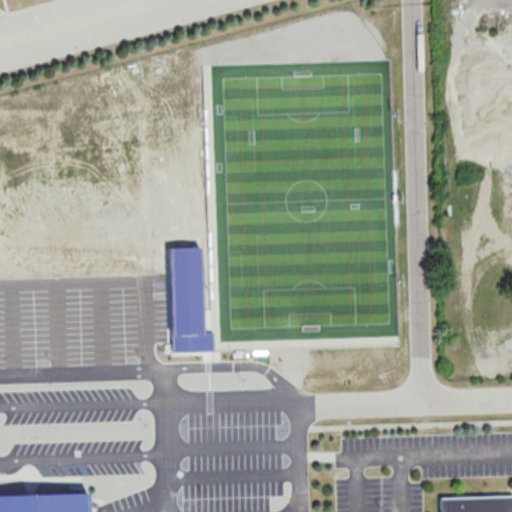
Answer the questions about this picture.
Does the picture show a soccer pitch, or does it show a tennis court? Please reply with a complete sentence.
There is a soccer pitch in the scene.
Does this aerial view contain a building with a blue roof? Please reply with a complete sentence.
Yes, there's a building with a blue roof down there.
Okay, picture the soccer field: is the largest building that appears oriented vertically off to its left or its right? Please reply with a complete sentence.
The soccer field has the largest building that appears oriented vertically on its left side.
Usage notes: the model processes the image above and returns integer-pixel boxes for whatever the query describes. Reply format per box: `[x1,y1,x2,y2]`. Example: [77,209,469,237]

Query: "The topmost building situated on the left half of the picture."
[164,248,214,354]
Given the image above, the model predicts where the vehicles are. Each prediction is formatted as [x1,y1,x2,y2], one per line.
[417,20,425,72]
[448,205,452,217]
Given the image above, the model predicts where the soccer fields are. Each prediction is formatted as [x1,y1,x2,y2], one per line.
[212,60,398,342]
